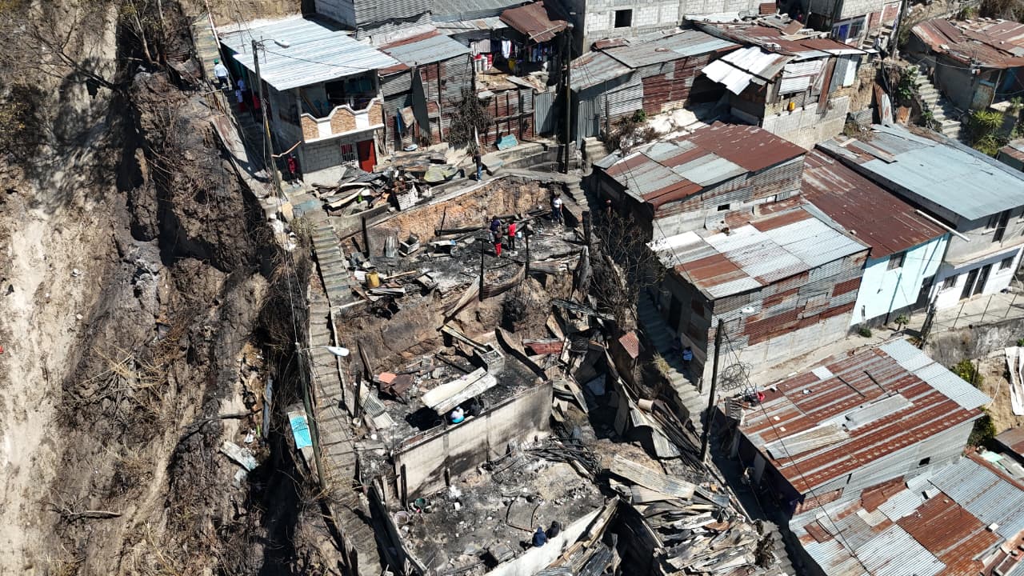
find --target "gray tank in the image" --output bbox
[478,346,505,375]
